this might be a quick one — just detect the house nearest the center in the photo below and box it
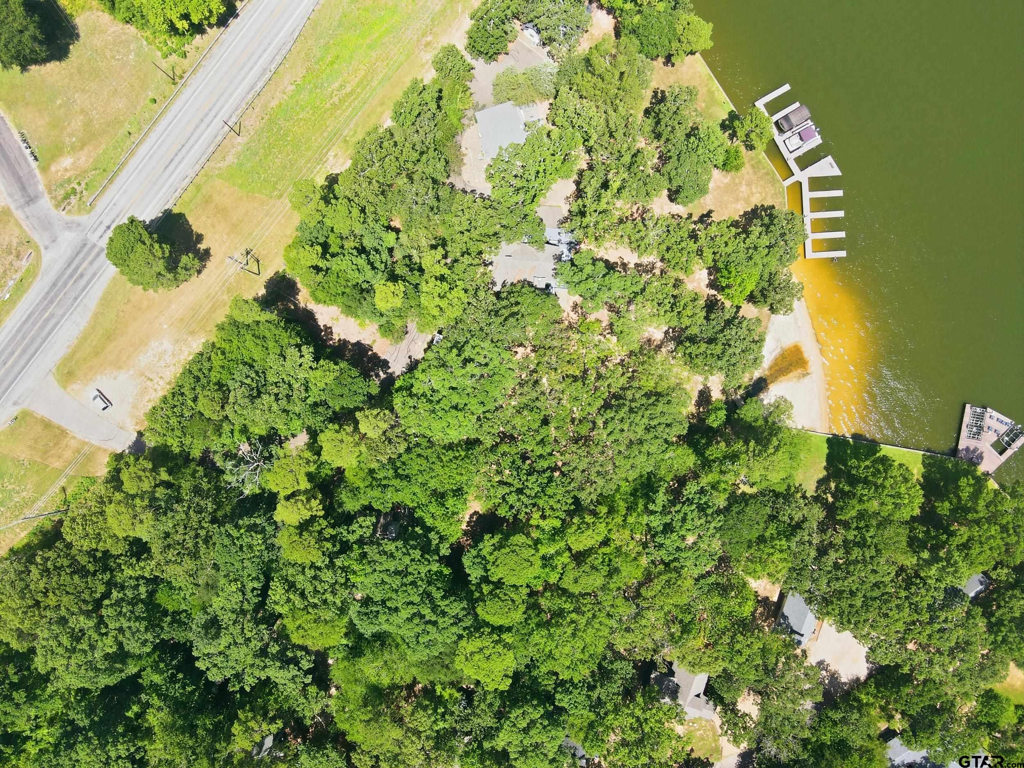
[493,228,573,293]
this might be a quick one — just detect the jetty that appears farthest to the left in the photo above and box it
[753,83,846,258]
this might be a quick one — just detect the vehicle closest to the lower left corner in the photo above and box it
[86,390,111,414]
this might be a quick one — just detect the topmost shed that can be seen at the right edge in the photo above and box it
[957,572,989,597]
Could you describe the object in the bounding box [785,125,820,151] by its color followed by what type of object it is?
white boat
